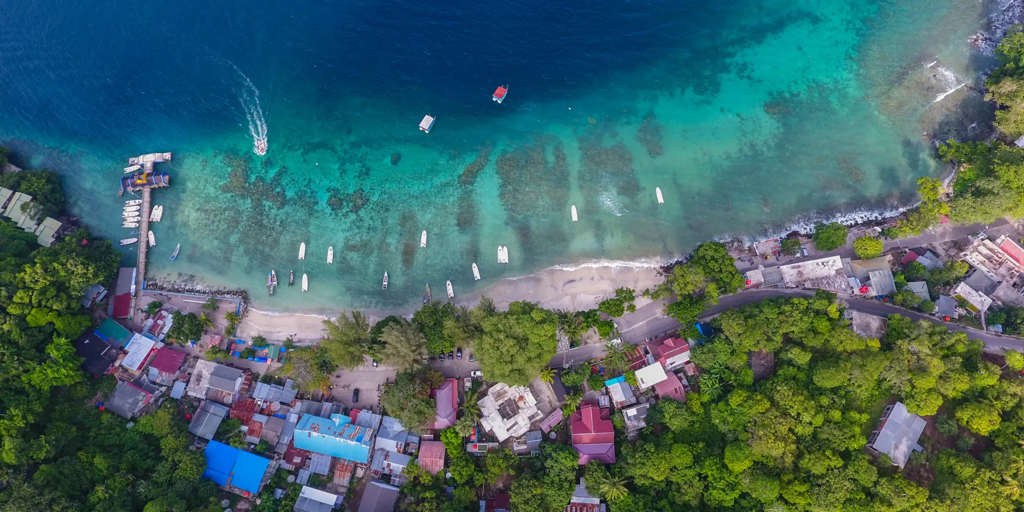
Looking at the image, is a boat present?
Yes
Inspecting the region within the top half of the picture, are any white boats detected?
Yes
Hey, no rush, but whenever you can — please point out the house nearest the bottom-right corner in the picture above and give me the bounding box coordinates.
[867,402,927,468]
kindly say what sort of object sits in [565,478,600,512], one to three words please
house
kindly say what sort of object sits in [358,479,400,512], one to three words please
building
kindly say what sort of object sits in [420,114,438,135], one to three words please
boat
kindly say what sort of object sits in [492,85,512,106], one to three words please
boat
